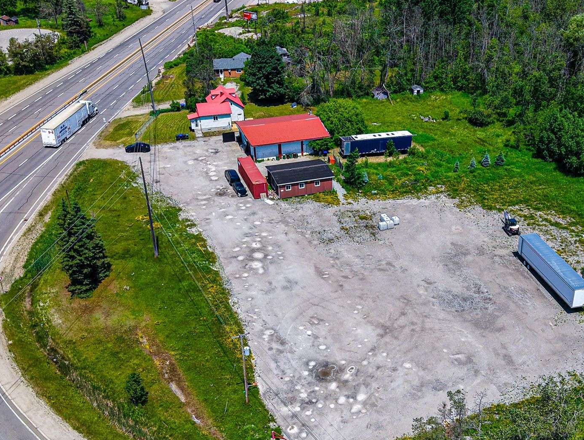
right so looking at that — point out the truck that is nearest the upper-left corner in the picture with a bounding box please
[40,99,99,145]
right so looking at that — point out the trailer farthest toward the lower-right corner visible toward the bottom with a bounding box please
[517,232,584,309]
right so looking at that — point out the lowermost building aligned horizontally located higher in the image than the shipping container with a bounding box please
[239,113,331,162]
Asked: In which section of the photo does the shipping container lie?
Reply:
center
